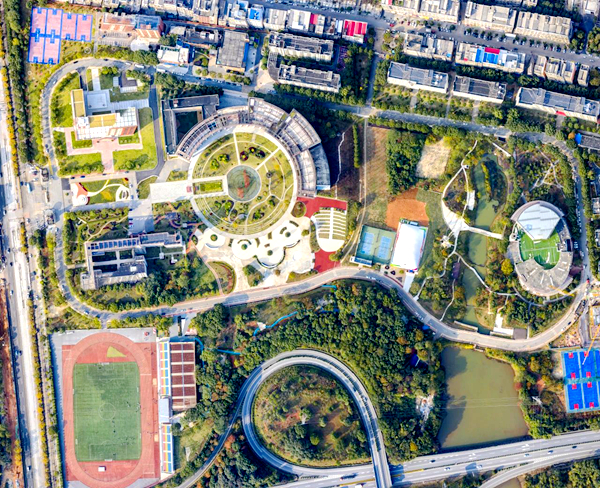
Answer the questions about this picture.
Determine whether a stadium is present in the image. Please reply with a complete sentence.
Yes, a stadium appears in the view.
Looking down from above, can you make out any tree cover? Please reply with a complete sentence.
Yes, some tree cover is visible.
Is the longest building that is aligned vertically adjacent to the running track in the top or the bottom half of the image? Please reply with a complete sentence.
You can find the longest building that is aligned vertically adjacent to the running track in the bottom half.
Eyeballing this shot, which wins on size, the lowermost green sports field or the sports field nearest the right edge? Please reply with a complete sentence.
The lowermost green sports field takes up more space than the sports field nearest the right edge.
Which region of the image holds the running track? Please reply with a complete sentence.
The running track sits in the bottom left section of the image.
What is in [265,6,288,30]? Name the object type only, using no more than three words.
house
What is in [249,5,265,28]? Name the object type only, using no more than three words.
house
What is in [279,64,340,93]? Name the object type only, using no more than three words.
building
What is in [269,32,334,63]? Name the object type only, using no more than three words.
building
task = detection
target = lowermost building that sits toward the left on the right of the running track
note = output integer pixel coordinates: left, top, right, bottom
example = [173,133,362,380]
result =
[169,339,198,409]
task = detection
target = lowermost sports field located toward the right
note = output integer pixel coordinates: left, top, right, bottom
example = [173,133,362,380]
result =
[518,224,557,269]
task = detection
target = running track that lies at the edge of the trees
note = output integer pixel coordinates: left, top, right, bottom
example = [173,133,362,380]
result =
[62,333,159,488]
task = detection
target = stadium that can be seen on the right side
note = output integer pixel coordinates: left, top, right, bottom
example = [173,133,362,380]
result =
[507,200,574,296]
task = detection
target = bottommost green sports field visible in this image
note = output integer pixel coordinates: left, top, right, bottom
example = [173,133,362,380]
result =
[74,361,141,462]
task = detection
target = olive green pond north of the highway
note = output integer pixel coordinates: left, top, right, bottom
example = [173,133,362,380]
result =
[440,346,529,455]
